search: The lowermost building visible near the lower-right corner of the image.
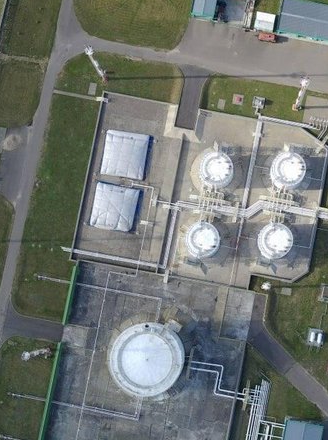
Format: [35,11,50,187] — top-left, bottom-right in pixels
[281,417,324,440]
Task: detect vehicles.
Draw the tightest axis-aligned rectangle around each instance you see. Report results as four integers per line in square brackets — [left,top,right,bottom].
[244,0,256,27]
[259,31,276,42]
[218,1,227,17]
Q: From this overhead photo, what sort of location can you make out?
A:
industrial area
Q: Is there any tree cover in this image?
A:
No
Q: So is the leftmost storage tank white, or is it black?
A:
white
